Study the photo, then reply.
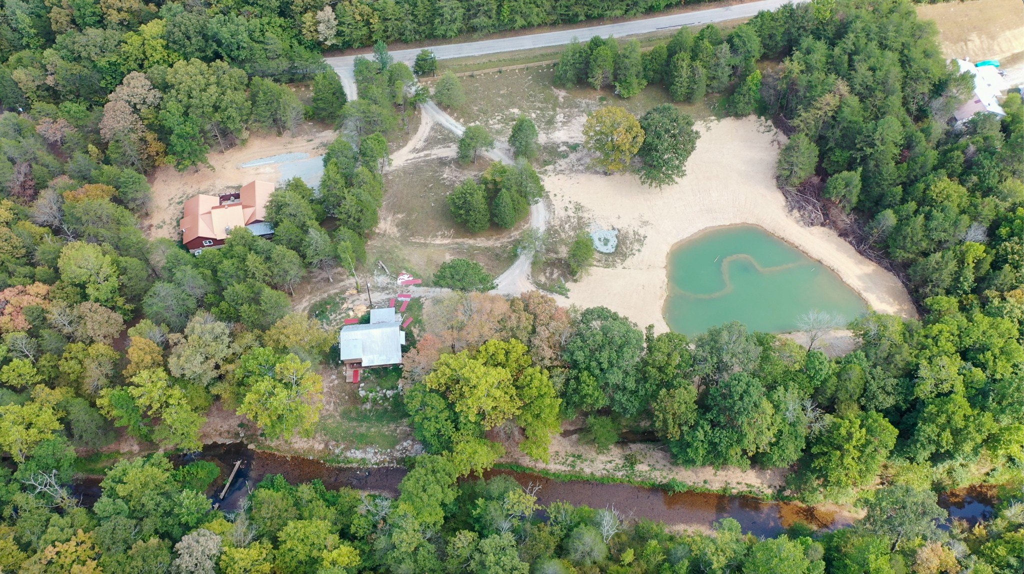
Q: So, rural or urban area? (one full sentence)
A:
This place is rural.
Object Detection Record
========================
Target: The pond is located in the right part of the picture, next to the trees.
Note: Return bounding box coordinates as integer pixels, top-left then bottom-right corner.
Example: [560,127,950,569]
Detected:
[671,228,861,330]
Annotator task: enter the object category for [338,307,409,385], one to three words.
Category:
building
